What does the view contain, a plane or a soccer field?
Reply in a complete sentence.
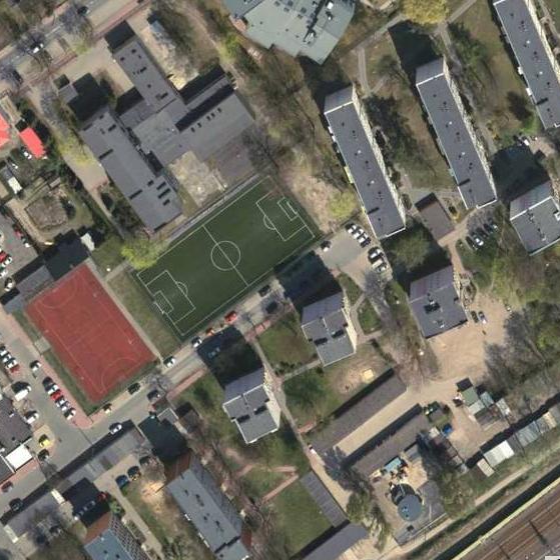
I can see a soccer field in this picture.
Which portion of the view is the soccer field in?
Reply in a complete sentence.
Look in the center portion of the view to spot the soccer field.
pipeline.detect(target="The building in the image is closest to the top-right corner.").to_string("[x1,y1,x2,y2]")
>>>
[492,0,560,128]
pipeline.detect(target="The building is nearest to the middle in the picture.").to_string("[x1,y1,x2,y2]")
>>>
[301,293,356,366]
